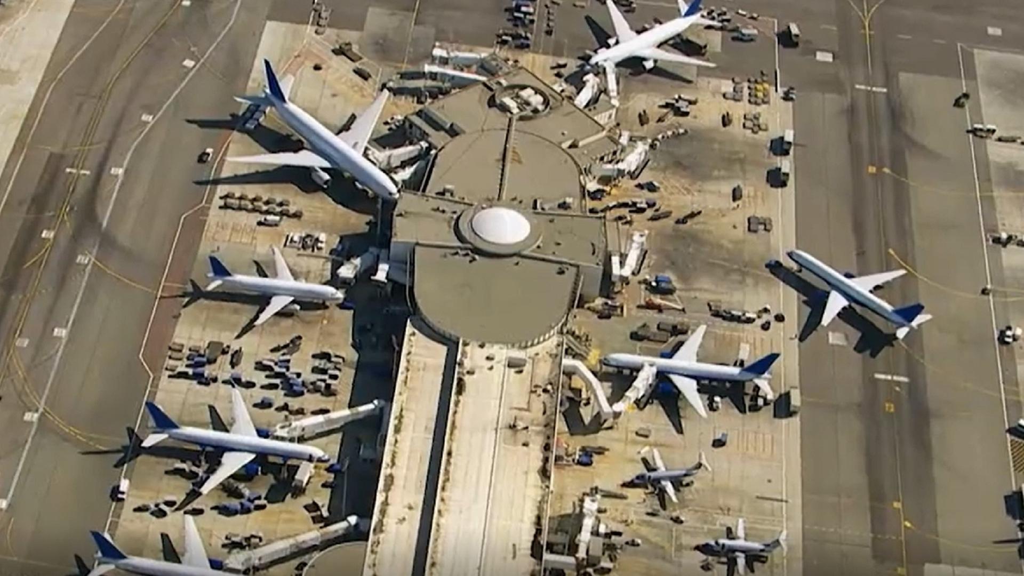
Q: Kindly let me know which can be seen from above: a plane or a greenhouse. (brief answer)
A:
plane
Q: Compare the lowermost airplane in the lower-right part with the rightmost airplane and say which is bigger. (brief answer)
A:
the rightmost airplane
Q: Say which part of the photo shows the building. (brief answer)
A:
center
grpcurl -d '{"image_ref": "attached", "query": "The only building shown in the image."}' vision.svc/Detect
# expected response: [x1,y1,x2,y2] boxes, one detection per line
[303,50,634,576]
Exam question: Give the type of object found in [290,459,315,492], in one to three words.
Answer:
truck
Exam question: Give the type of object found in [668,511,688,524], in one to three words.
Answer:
vehicle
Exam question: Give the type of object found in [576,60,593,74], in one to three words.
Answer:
work vehicle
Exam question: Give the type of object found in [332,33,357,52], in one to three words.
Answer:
vehicle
